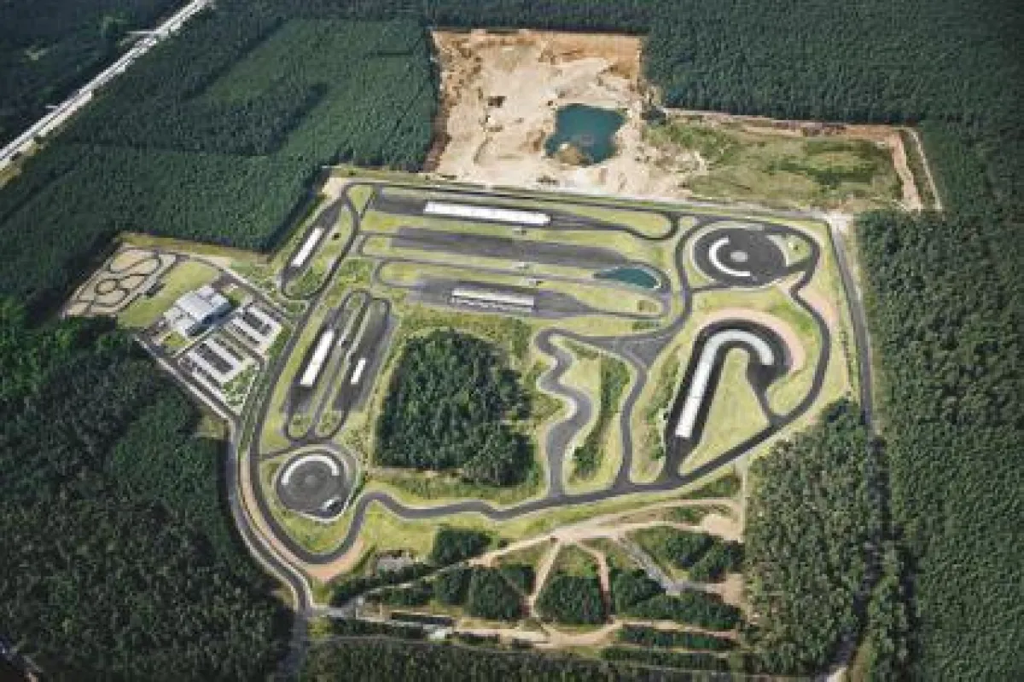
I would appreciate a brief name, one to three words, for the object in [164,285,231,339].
building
